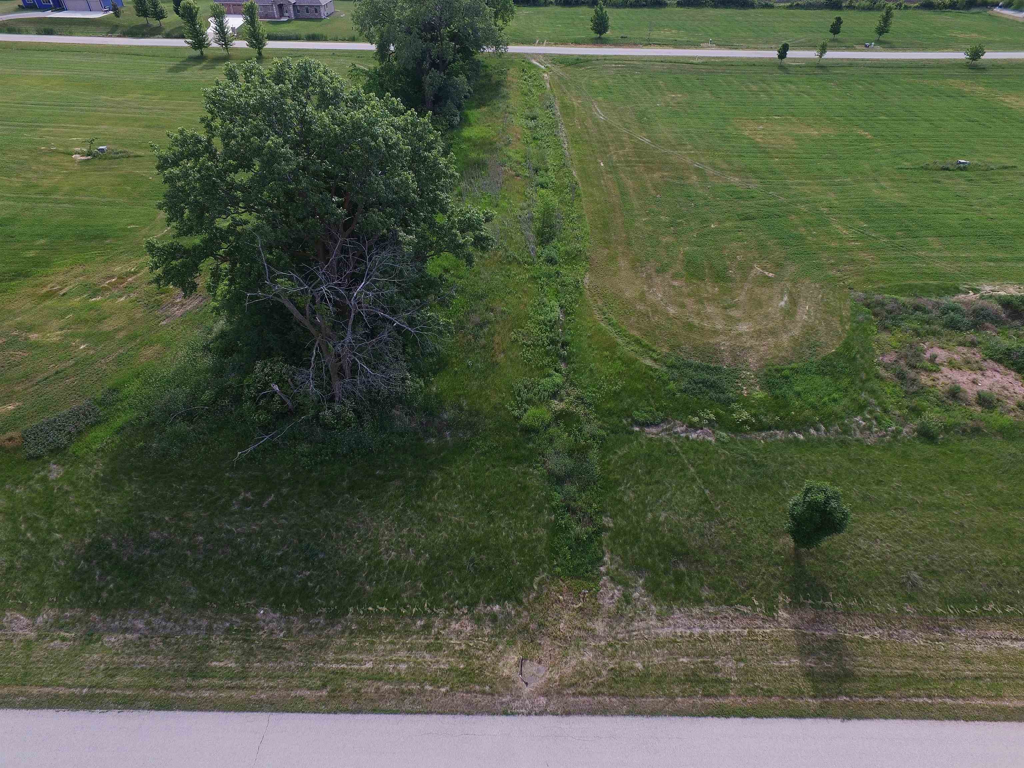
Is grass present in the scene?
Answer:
Yes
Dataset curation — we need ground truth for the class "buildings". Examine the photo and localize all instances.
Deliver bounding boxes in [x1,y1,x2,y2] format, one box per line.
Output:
[30,0,125,11]
[215,0,331,20]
